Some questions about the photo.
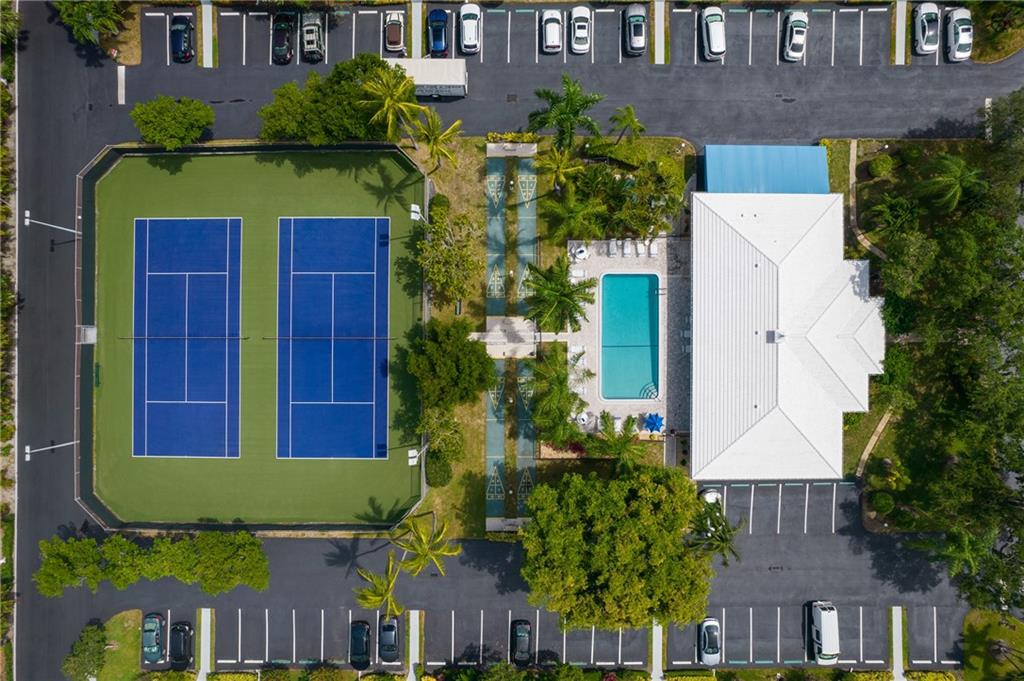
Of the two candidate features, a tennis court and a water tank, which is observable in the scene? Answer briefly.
tennis court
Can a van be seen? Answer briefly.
Yes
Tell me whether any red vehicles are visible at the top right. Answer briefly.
No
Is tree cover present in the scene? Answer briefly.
Yes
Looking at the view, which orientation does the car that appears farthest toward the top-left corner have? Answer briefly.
up and down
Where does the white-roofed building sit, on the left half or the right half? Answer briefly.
right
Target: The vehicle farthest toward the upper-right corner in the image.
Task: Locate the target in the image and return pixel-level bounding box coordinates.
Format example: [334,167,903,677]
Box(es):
[946,11,973,62]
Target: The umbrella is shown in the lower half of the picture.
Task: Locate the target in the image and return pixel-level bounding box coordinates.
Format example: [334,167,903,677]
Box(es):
[642,410,663,432]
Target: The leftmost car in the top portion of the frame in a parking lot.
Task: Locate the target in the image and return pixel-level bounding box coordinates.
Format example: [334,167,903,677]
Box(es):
[170,15,196,65]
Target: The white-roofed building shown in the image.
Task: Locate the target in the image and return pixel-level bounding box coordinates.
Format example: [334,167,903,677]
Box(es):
[690,192,885,480]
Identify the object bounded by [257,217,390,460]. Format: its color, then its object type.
blue tennis court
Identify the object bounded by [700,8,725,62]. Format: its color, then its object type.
white car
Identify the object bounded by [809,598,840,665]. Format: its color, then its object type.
white van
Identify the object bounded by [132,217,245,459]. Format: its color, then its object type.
blue tennis court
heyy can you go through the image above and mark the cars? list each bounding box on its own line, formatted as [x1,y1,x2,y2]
[946,11,973,62]
[427,10,449,58]
[570,7,592,56]
[913,5,940,55]
[625,5,648,56]
[700,8,725,62]
[698,615,722,666]
[458,4,481,55]
[272,14,296,65]
[377,613,400,662]
[300,15,324,63]
[168,619,194,670]
[349,618,372,670]
[141,612,167,662]
[783,12,809,63]
[384,13,405,54]
[170,15,196,65]
[511,618,532,665]
[541,9,563,55]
